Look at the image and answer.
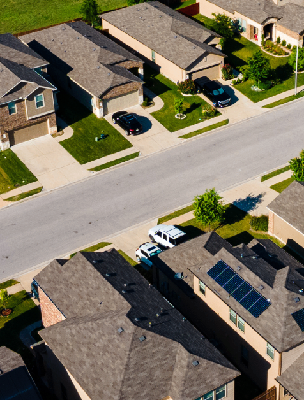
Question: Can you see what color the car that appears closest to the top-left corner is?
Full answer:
The color of the car that appears closest to the top-left corner is black.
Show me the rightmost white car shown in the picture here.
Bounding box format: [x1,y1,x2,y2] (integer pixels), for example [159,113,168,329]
[148,223,182,245]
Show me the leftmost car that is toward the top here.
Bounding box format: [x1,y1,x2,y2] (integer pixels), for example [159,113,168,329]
[109,109,142,133]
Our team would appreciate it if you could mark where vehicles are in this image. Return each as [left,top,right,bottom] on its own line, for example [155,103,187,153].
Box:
[148,223,182,245]
[109,109,142,133]
[34,284,43,302]
[136,245,157,278]
[197,76,236,104]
